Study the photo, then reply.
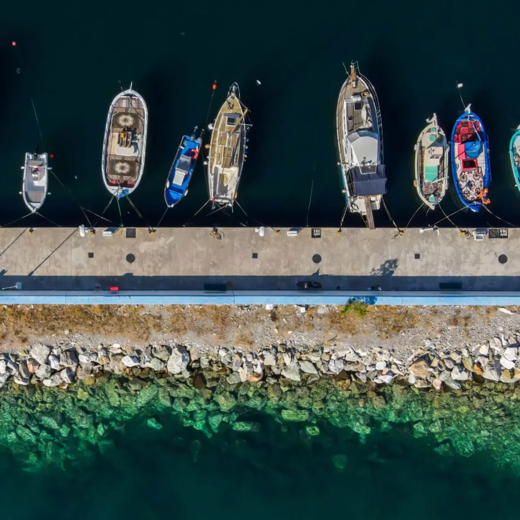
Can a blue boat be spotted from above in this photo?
Yes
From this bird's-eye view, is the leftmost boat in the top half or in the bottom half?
top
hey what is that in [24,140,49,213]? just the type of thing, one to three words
boat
